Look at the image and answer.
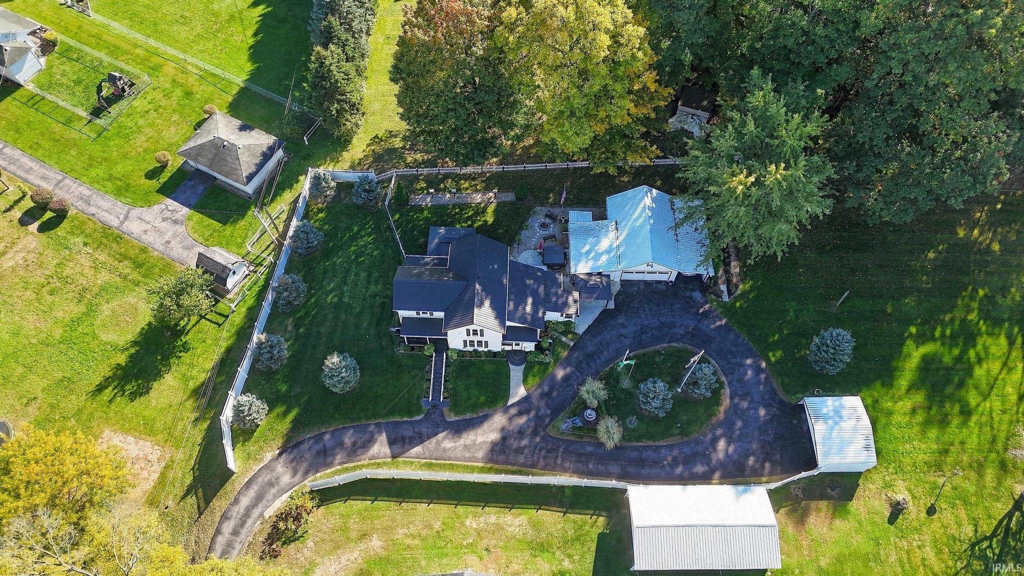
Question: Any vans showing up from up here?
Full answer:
No, I can see no van in this picture.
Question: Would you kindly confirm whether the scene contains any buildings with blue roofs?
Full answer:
Yes, a building with a blue roof can be made out from above.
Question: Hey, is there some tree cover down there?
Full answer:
Yes, tree cover shows up in the scene.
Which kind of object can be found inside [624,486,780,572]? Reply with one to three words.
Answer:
barn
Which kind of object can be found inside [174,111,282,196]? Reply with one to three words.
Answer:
building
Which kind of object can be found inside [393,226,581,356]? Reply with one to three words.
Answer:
house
